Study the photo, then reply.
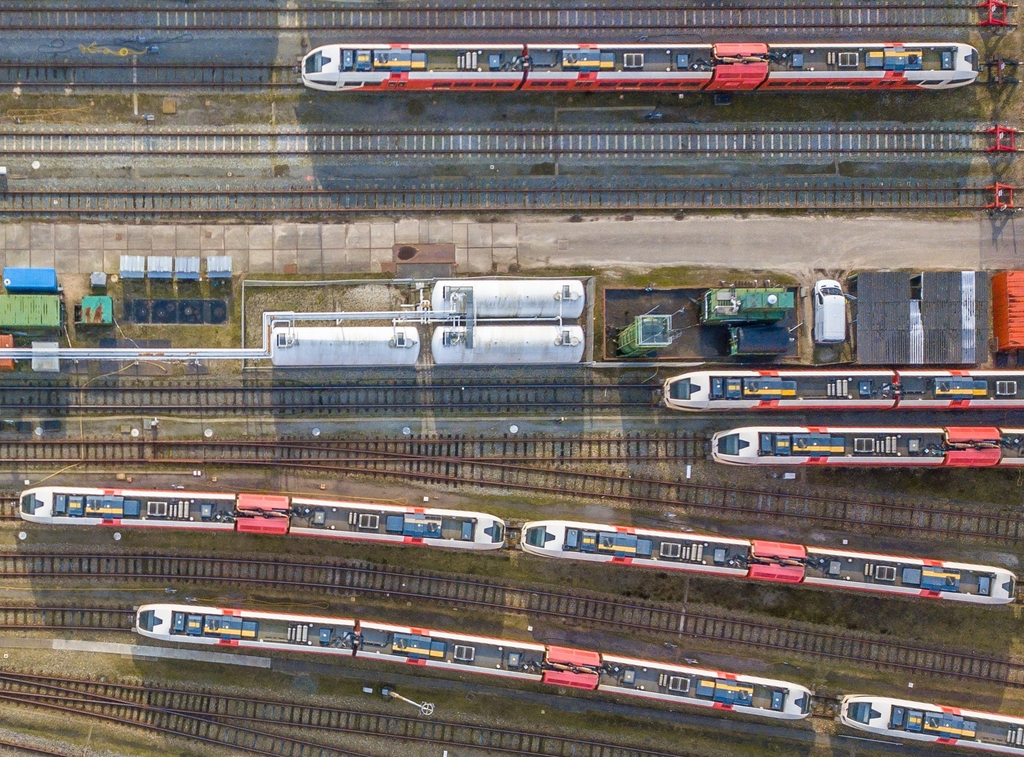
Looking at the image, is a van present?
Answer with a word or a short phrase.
Yes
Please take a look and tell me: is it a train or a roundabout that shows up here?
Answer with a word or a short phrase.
train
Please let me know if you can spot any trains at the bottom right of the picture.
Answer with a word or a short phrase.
Yes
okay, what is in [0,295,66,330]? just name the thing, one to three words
shipping container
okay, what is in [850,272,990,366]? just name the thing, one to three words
shed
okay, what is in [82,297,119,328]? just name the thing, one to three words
shed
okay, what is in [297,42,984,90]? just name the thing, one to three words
train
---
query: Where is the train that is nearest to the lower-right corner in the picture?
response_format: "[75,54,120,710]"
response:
[833,692,1024,755]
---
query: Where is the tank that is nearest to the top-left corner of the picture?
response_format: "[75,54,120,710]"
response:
[273,328,419,366]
